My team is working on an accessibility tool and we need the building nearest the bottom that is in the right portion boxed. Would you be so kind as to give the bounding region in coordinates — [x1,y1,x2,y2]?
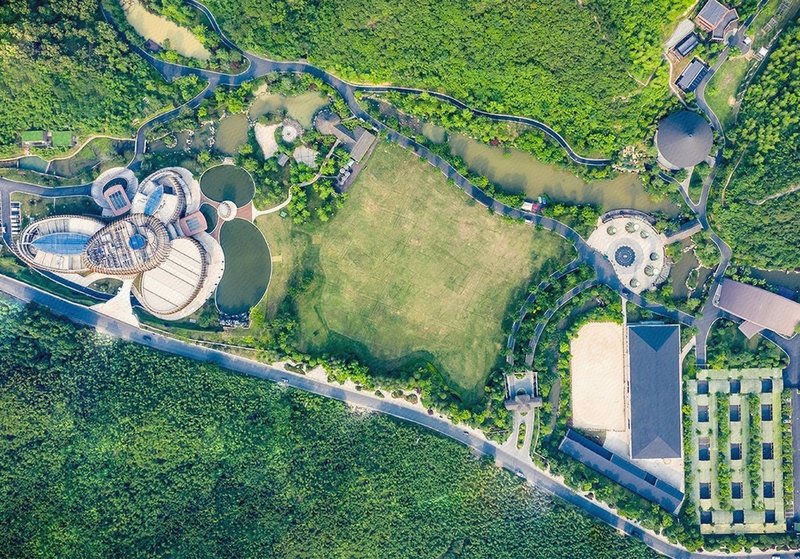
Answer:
[559,429,684,511]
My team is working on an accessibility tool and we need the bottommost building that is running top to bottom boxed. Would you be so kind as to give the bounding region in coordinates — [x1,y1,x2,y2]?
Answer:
[627,322,681,458]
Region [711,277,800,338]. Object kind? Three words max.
building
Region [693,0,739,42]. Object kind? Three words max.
house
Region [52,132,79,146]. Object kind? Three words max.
building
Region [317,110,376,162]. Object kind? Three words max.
house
